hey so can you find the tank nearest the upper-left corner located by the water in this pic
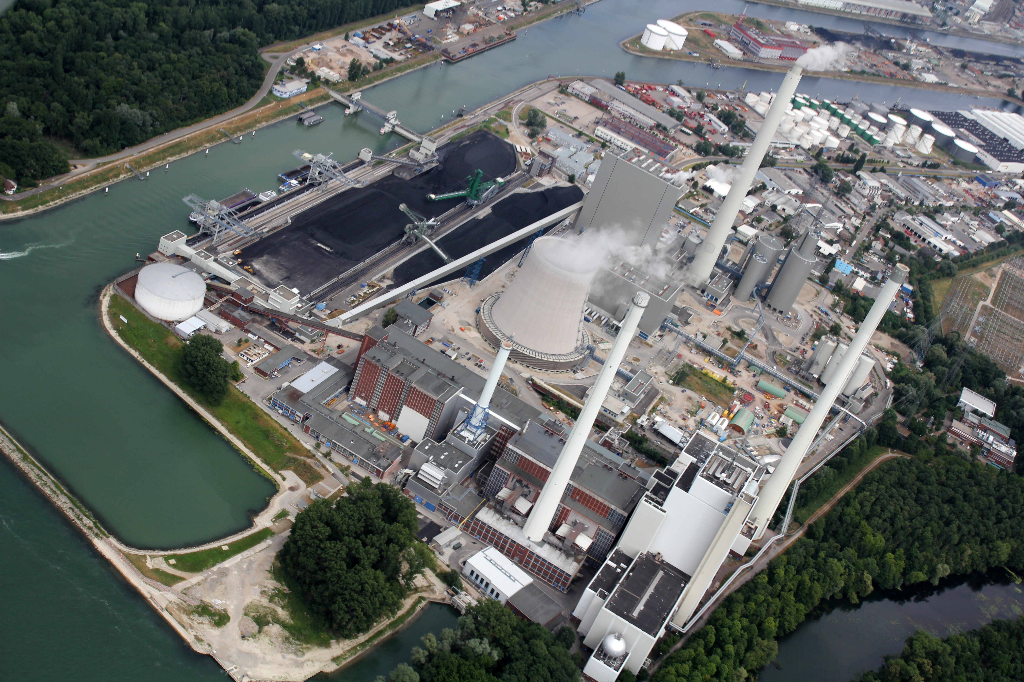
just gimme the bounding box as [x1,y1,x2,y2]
[133,262,206,320]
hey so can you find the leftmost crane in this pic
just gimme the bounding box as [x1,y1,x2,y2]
[184,194,257,243]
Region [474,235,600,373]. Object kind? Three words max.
cooling tower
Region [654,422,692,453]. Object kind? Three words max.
shed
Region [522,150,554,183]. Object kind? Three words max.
building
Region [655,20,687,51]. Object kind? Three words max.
storage tank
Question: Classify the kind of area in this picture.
port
